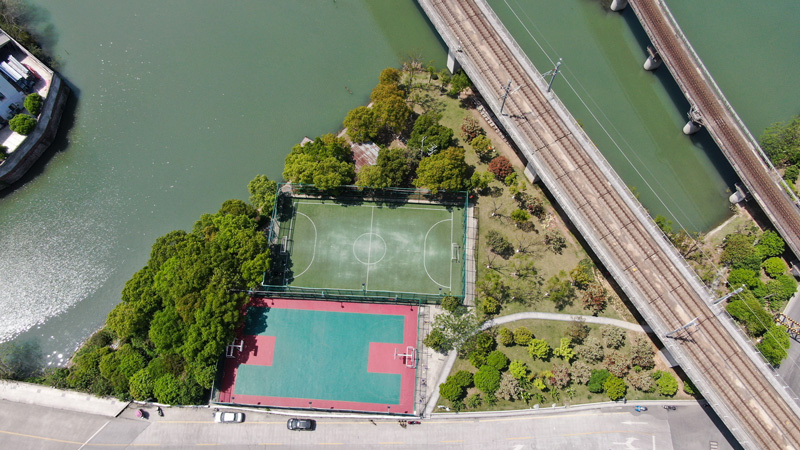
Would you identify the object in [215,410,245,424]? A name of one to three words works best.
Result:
car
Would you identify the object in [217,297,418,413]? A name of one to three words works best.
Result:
basketball court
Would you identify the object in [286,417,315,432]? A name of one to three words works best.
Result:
car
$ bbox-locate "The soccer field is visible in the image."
[273,198,462,303]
